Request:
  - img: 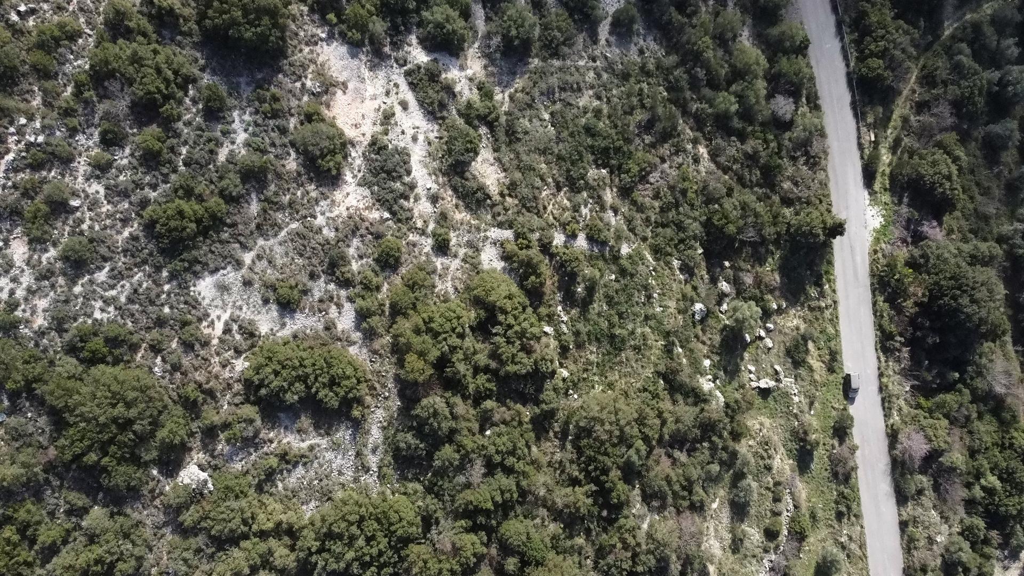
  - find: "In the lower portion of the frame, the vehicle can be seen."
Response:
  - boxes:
[846,372,861,399]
